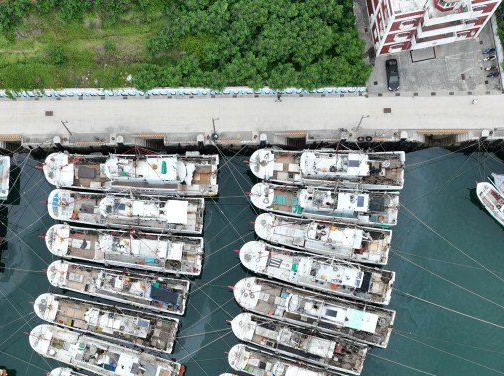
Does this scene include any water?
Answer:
Yes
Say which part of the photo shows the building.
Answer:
top right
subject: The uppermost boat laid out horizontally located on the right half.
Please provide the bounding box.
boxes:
[245,144,404,190]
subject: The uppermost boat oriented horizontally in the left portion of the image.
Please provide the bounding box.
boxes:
[38,146,219,197]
